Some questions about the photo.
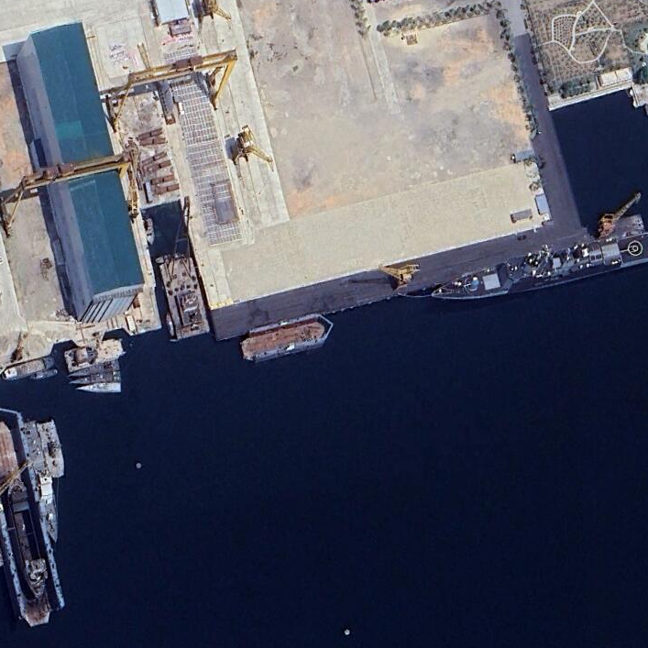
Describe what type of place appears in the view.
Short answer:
port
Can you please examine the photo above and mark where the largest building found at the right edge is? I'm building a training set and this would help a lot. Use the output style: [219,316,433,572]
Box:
[598,67,633,87]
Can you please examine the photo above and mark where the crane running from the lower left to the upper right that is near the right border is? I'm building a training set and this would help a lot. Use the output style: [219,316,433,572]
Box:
[591,193,641,246]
